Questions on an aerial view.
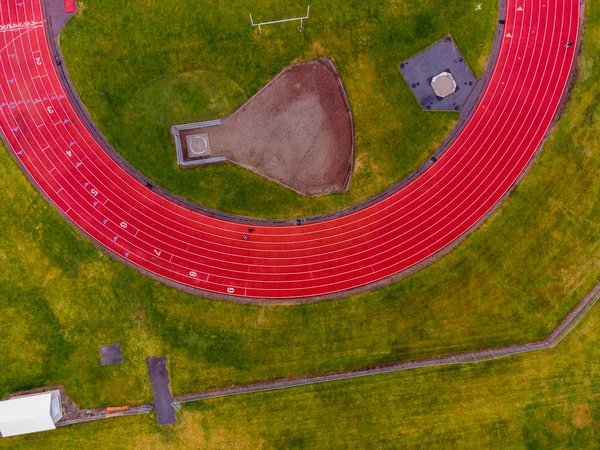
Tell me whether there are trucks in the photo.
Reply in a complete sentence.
No, the photo shows no truck.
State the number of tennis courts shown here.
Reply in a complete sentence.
No tennis courts are visible.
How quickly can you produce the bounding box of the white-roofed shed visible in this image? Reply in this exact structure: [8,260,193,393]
[0,390,63,438]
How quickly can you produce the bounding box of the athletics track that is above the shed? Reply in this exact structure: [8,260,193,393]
[0,0,579,298]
